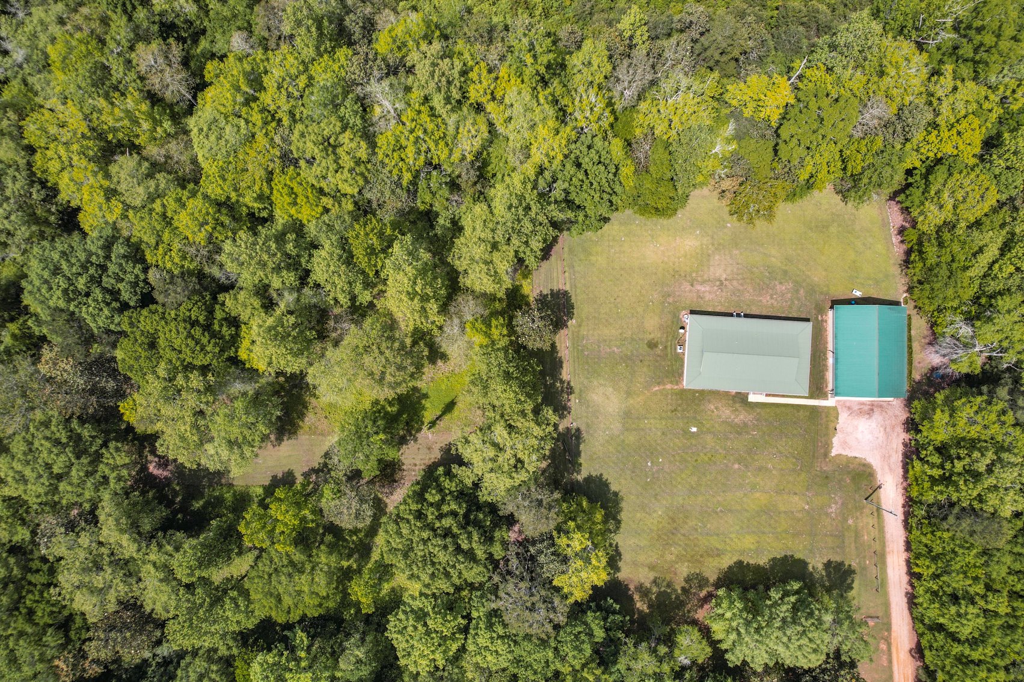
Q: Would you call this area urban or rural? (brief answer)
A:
rural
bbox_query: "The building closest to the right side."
[825,305,907,398]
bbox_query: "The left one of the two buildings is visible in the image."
[683,314,813,396]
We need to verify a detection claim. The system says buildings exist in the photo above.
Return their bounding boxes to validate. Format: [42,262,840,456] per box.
[683,314,813,396]
[825,305,907,398]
